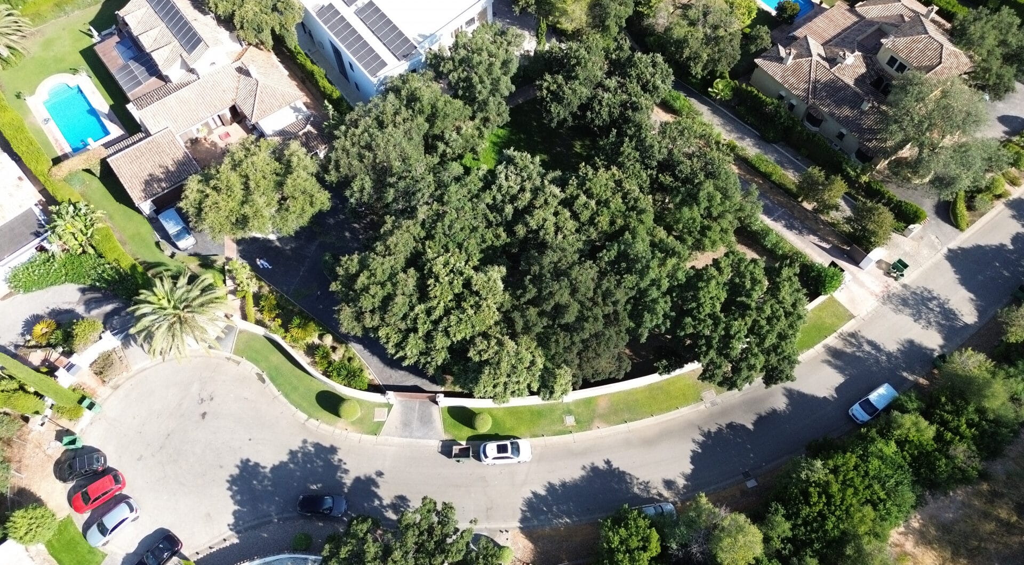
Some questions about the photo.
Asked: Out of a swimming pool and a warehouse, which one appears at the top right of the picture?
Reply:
swimming pool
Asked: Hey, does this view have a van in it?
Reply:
Yes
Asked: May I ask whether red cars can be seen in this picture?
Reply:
Yes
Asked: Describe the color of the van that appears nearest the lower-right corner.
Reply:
blue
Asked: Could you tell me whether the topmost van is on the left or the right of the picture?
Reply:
left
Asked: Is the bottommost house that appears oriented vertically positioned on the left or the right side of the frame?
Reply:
left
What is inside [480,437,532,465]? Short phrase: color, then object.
white car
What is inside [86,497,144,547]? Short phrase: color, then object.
white car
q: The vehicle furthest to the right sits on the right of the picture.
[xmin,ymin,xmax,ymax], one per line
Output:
[845,381,904,423]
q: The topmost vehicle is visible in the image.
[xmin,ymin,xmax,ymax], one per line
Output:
[152,205,198,253]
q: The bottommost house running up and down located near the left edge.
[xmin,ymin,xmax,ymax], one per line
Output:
[0,150,59,280]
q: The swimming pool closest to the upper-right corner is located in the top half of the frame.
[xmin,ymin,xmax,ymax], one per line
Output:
[759,0,816,21]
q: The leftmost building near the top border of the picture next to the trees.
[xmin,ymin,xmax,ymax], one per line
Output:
[94,0,332,219]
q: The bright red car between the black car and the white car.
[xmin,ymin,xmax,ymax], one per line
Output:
[72,469,131,513]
